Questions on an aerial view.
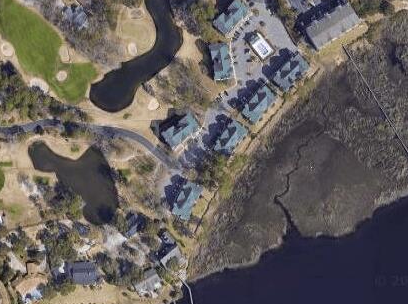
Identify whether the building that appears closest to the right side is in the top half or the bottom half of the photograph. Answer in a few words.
top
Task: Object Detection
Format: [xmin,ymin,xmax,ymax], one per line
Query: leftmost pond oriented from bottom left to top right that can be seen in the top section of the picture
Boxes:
[90,0,182,112]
